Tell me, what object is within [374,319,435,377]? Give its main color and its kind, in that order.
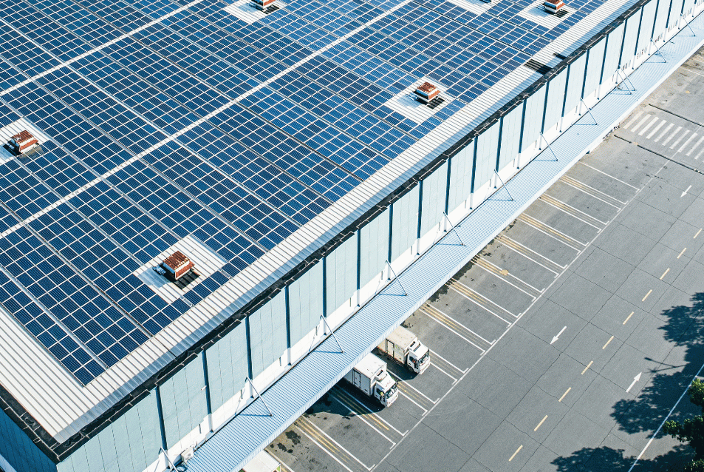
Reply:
white truck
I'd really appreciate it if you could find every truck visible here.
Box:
[342,350,403,409]
[374,319,435,377]
[233,445,280,472]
